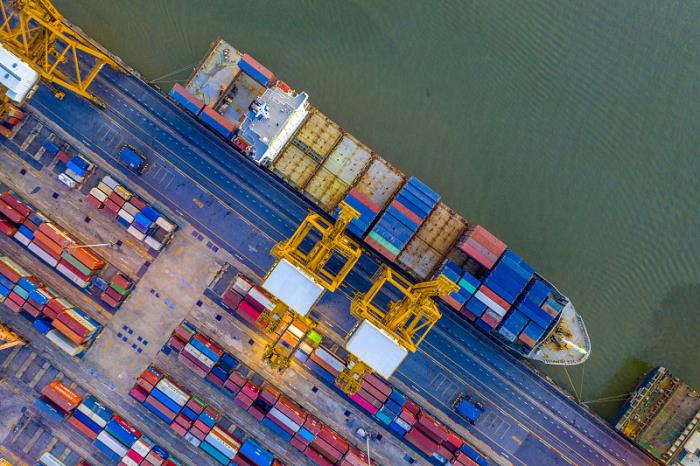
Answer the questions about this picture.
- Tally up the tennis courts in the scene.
0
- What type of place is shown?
port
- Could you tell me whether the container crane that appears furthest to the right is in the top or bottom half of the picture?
bottom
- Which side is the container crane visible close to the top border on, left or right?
left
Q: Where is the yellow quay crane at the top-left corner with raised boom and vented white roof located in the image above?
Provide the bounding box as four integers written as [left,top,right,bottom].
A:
[0,0,135,113]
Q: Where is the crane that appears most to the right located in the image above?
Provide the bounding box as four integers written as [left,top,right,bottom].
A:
[320,258,464,400]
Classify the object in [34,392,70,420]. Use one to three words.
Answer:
shipping container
